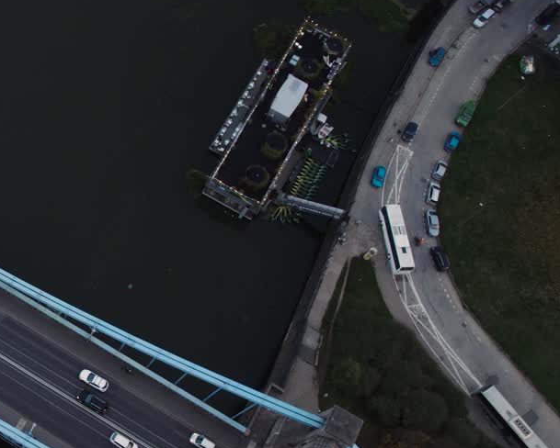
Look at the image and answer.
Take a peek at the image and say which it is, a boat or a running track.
boat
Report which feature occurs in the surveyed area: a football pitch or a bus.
bus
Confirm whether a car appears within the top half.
Yes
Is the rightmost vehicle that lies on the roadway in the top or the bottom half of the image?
top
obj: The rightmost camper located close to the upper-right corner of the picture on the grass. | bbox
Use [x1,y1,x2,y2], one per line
[517,53,539,76]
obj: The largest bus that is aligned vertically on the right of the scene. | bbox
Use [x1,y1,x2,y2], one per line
[376,202,416,281]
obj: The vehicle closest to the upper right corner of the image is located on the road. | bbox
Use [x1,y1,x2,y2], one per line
[536,1,560,23]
